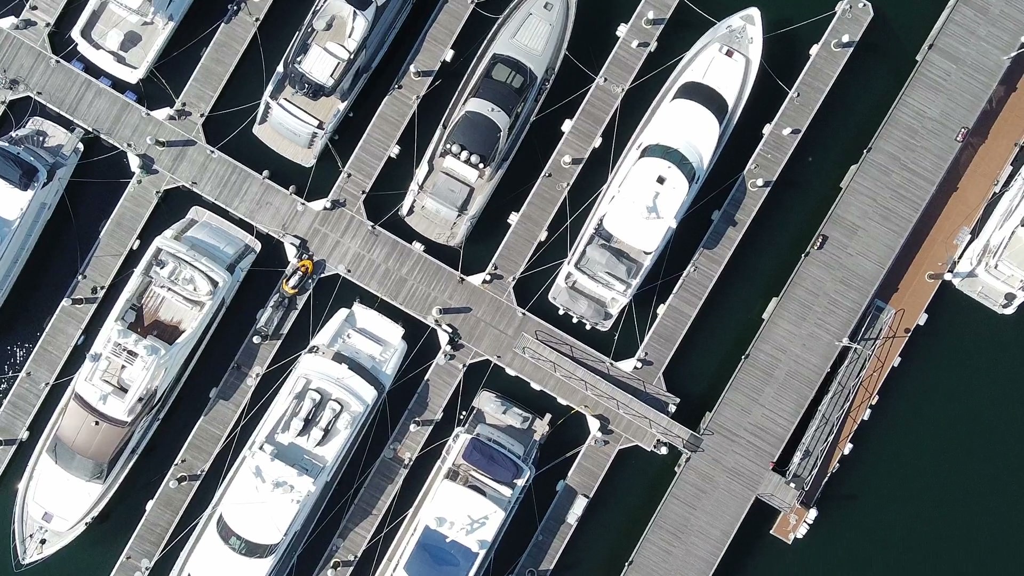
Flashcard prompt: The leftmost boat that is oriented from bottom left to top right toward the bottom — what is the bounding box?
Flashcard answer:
[11,206,262,572]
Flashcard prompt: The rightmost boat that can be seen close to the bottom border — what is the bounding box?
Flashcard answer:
[378,387,551,576]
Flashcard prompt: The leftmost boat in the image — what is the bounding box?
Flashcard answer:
[0,117,85,306]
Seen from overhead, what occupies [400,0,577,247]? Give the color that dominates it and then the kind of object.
white boat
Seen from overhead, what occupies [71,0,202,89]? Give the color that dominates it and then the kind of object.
white boat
